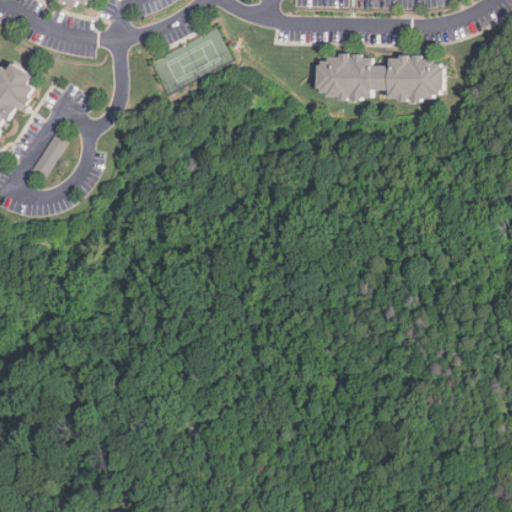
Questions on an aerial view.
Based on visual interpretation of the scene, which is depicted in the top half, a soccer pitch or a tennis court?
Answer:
tennis court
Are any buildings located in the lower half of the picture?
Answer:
No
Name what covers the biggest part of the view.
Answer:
trees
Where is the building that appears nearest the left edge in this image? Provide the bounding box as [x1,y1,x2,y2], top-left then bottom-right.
[0,56,36,128]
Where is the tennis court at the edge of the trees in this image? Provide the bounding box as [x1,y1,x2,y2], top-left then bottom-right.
[154,30,233,94]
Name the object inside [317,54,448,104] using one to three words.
building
